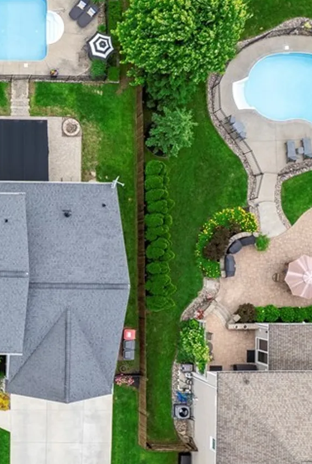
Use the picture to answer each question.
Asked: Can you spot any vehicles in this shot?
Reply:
No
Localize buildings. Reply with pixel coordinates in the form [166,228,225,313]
[0,177,131,403]
[192,322,312,464]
